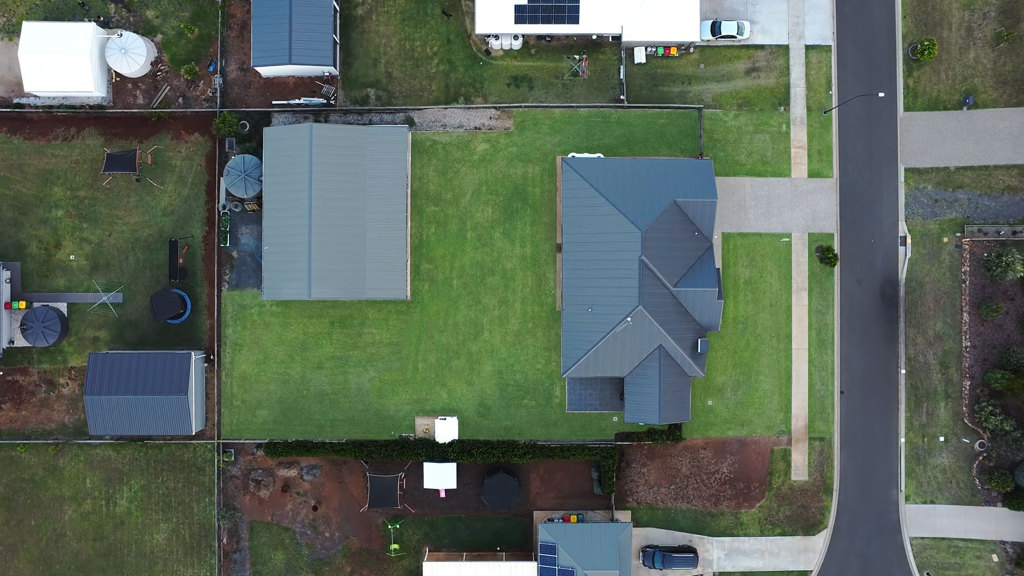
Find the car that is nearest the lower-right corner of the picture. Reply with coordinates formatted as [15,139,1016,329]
[641,543,698,570]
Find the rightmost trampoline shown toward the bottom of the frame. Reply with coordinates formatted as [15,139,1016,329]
[481,467,521,511]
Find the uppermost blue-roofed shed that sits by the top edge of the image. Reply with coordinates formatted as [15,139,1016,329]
[250,0,342,77]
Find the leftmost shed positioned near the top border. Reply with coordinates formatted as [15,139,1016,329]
[18,20,118,97]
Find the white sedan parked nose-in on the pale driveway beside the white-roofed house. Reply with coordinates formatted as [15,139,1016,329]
[700,17,755,43]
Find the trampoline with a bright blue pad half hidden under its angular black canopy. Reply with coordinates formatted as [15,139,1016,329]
[151,289,191,324]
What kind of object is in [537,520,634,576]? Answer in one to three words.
house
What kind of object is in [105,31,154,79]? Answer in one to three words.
water tank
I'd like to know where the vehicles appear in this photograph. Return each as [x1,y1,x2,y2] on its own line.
[700,17,755,43]
[641,543,698,570]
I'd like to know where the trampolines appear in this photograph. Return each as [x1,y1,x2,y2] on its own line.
[151,289,191,324]
[481,467,521,511]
